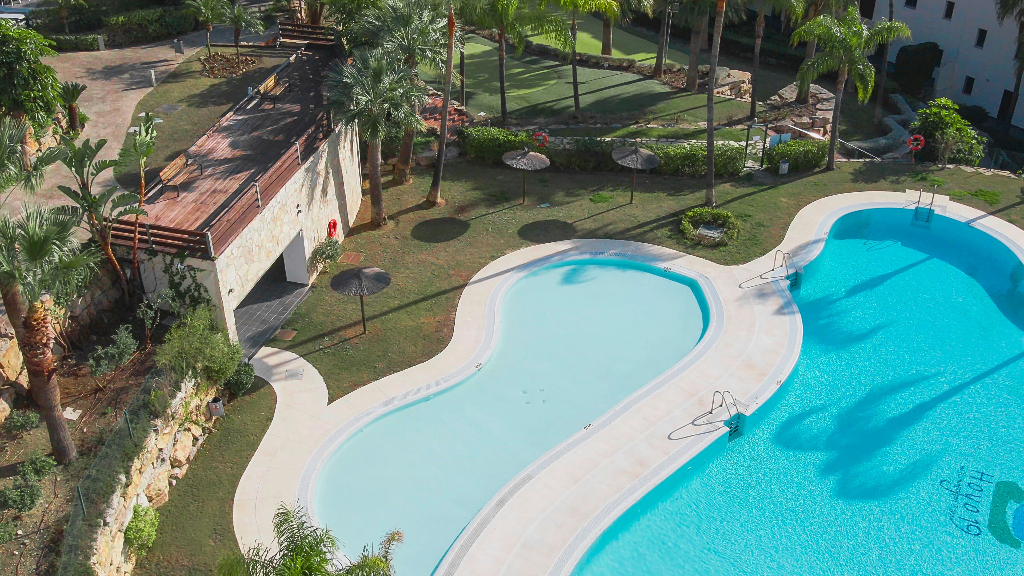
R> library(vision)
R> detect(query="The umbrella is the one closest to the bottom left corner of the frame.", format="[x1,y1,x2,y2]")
[326,260,392,334]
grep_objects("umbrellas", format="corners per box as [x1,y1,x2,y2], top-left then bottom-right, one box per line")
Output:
[326,260,392,334]
[499,142,548,203]
[610,142,660,203]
